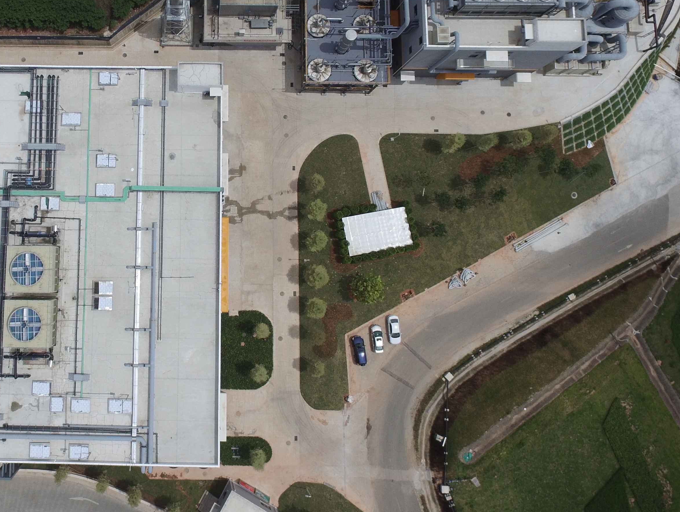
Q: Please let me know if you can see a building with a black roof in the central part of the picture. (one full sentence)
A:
No, there is no building with a black roof in the central part of the picture.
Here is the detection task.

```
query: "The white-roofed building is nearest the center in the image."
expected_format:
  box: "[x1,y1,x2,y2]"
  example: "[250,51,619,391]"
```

[339,208,413,256]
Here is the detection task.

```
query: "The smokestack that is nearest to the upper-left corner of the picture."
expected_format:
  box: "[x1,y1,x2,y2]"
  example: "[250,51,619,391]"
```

[160,0,193,44]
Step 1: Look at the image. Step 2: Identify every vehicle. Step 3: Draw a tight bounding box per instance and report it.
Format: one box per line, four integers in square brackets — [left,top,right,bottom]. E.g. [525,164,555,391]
[352,336,369,368]
[371,325,386,353]
[388,315,404,344]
